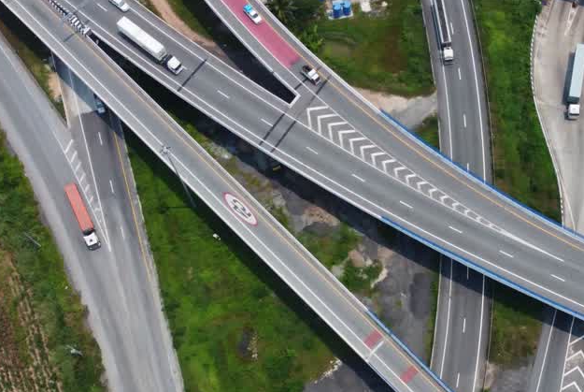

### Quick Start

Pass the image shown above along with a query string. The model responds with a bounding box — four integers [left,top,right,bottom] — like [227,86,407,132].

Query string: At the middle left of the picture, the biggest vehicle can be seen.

[61,178,104,254]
